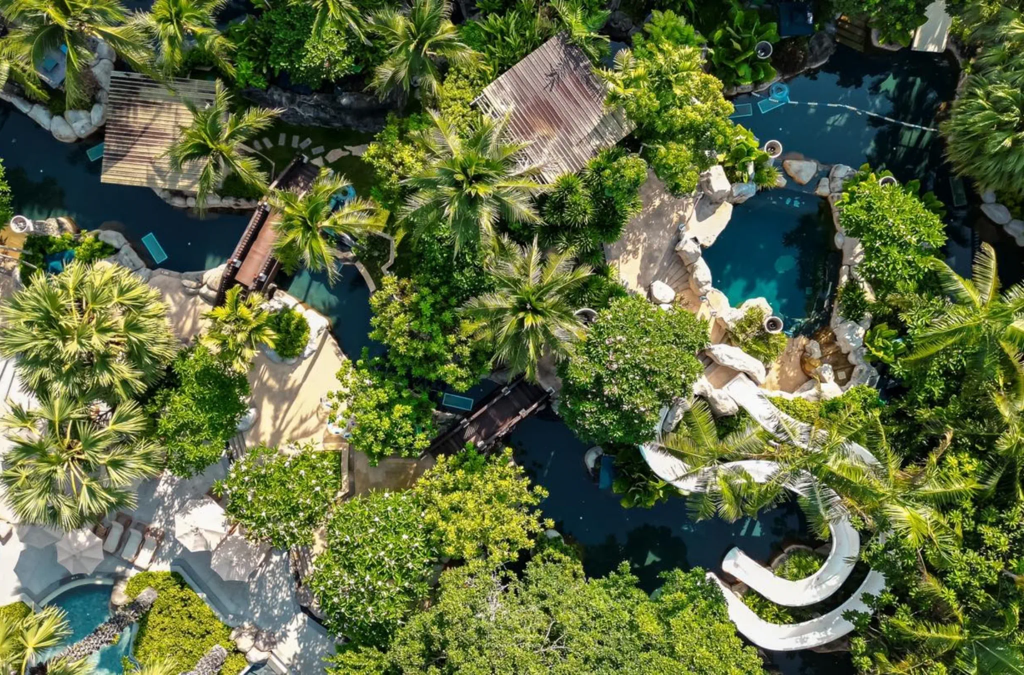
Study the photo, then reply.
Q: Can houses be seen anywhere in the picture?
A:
No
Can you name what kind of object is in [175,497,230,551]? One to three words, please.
umbrella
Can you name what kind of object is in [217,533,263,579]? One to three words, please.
umbrella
